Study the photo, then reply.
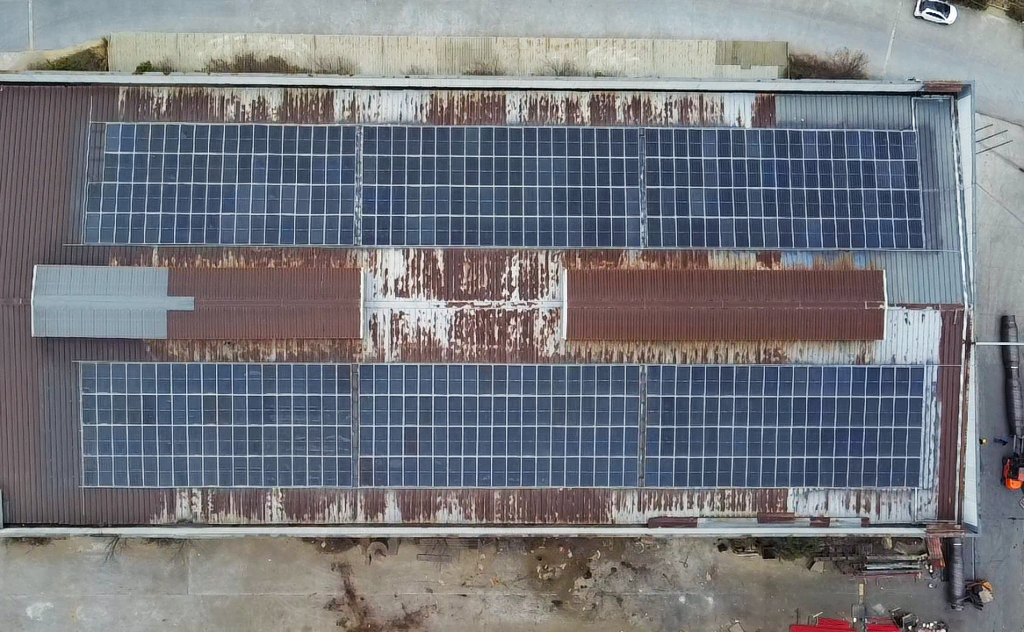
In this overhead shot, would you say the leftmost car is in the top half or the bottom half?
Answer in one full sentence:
It is in the top half that the leftmost car appears.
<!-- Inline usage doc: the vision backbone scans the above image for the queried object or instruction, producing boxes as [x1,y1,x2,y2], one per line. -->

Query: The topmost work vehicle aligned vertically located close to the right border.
[1003,443,1024,489]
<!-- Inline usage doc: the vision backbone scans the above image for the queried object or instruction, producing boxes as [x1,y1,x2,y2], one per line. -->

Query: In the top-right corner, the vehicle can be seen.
[915,0,959,24]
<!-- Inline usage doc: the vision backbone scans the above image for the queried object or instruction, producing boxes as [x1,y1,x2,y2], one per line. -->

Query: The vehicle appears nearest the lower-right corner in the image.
[965,582,996,613]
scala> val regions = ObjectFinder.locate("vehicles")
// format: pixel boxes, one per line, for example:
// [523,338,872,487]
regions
[1003,443,1024,489]
[965,582,996,613]
[915,0,959,24]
